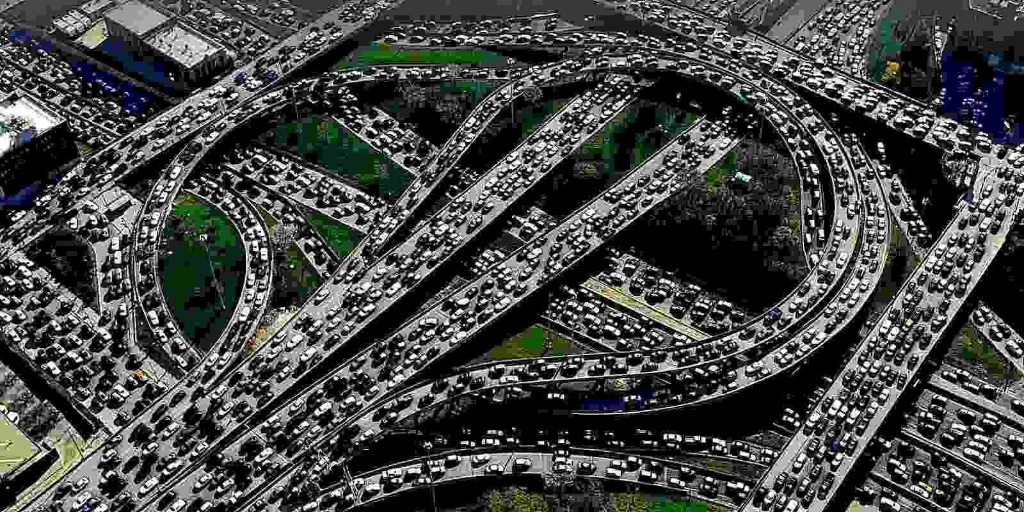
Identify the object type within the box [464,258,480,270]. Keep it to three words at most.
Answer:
vehicle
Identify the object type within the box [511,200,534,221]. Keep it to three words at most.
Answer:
truck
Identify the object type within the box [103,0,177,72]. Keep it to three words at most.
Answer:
building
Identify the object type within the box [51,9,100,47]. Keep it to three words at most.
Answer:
shed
